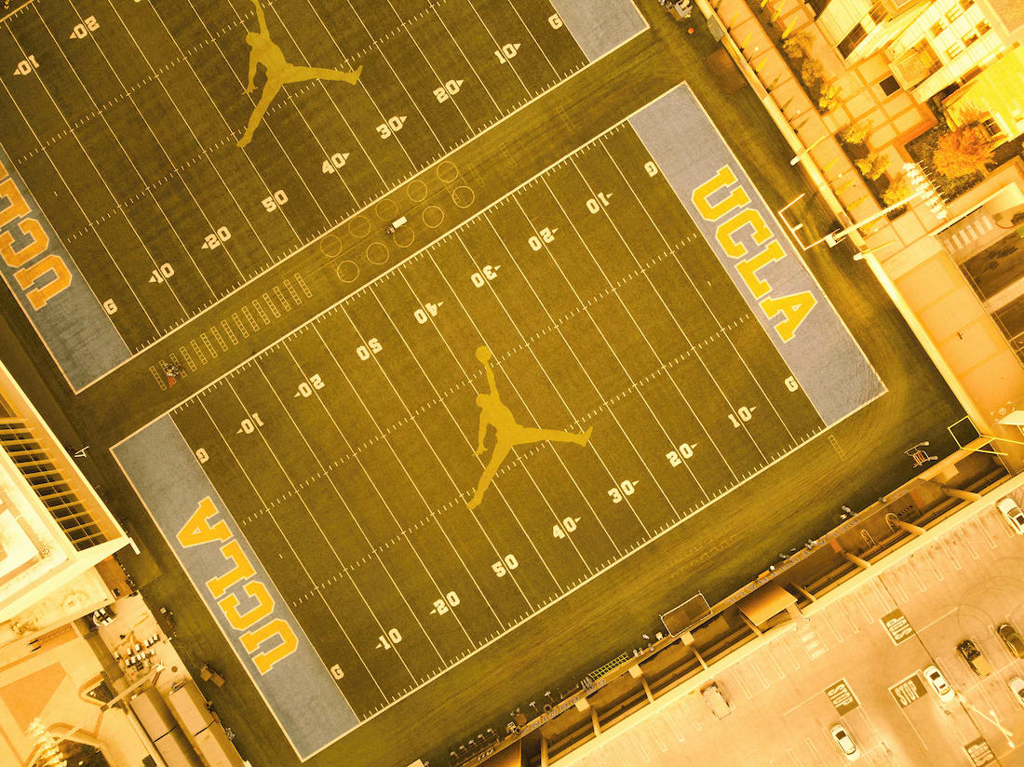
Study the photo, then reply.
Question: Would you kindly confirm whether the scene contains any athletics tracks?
No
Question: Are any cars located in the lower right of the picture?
Yes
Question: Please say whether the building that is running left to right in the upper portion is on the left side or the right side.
right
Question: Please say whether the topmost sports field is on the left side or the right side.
left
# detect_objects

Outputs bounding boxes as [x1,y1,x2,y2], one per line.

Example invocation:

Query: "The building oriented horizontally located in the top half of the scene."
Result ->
[795,0,1024,105]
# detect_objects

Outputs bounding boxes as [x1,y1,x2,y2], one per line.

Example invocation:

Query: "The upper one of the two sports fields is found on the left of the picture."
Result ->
[0,0,651,395]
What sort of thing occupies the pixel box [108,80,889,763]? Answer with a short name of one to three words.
sports field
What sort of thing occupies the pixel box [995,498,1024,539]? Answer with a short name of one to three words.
car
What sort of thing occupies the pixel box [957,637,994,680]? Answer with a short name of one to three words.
truck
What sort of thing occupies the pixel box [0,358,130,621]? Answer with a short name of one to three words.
building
